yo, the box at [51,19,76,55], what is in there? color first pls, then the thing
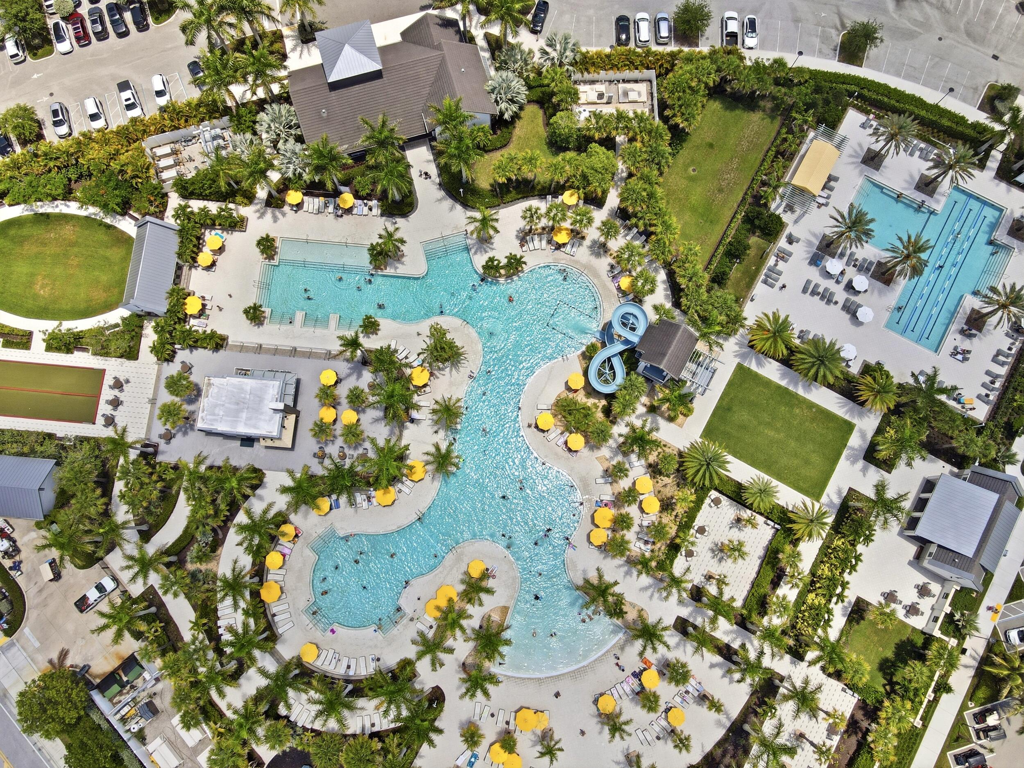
white car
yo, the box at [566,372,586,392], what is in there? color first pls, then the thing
yellow umbrella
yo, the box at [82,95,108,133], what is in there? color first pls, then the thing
white car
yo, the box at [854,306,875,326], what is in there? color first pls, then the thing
white umbrella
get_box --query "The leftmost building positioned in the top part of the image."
[119,211,187,318]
